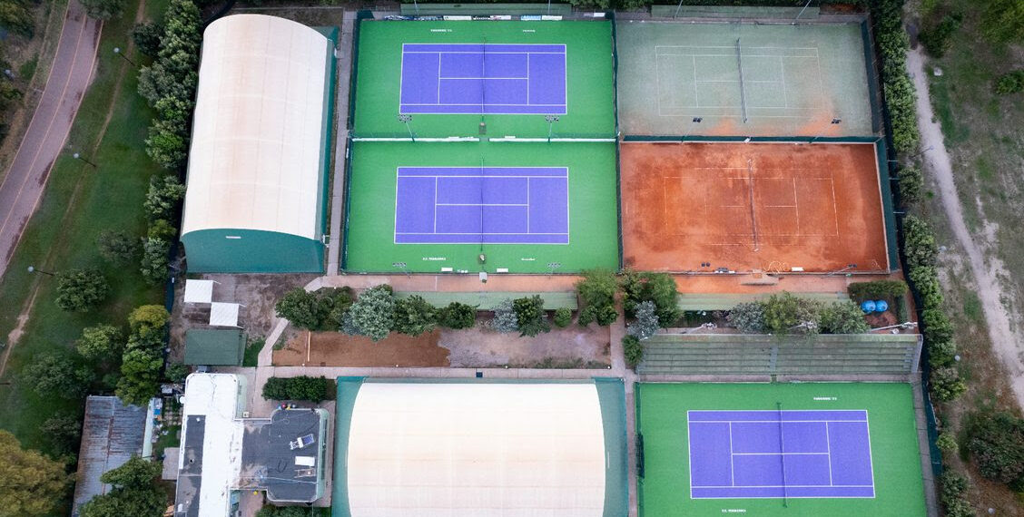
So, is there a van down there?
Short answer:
No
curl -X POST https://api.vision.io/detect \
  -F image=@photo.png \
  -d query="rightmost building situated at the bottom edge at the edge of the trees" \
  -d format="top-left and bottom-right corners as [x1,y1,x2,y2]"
[327,376,628,517]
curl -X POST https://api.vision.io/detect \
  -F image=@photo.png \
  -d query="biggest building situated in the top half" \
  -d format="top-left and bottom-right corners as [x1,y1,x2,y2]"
[177,12,339,273]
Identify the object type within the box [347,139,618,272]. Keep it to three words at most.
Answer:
tennis court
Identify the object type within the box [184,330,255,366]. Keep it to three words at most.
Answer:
shed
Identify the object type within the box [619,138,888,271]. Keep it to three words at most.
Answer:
tennis court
